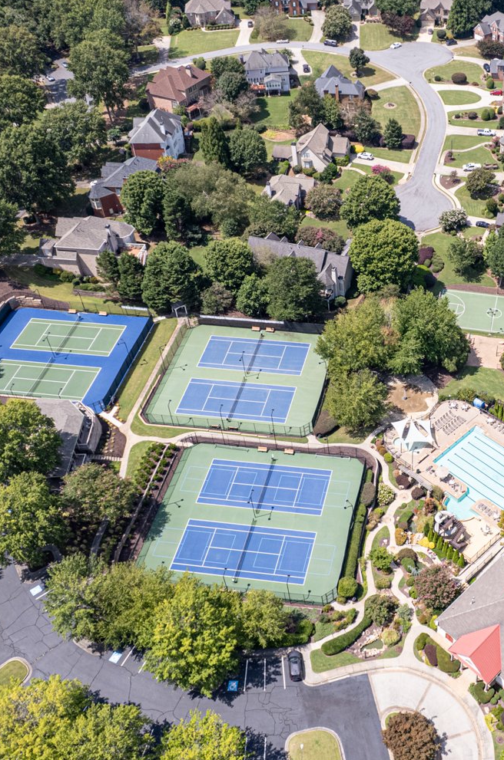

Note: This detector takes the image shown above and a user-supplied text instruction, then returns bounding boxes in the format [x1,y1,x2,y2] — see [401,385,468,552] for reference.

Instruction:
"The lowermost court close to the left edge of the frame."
[0,352,127,412]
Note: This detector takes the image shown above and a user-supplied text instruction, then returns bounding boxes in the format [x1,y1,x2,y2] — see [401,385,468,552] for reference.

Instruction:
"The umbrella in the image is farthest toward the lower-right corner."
[434,465,451,482]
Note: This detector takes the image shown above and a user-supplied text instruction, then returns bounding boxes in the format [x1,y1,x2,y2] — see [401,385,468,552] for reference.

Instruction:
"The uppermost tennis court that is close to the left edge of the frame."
[0,307,149,362]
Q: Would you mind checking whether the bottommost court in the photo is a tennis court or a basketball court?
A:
tennis court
